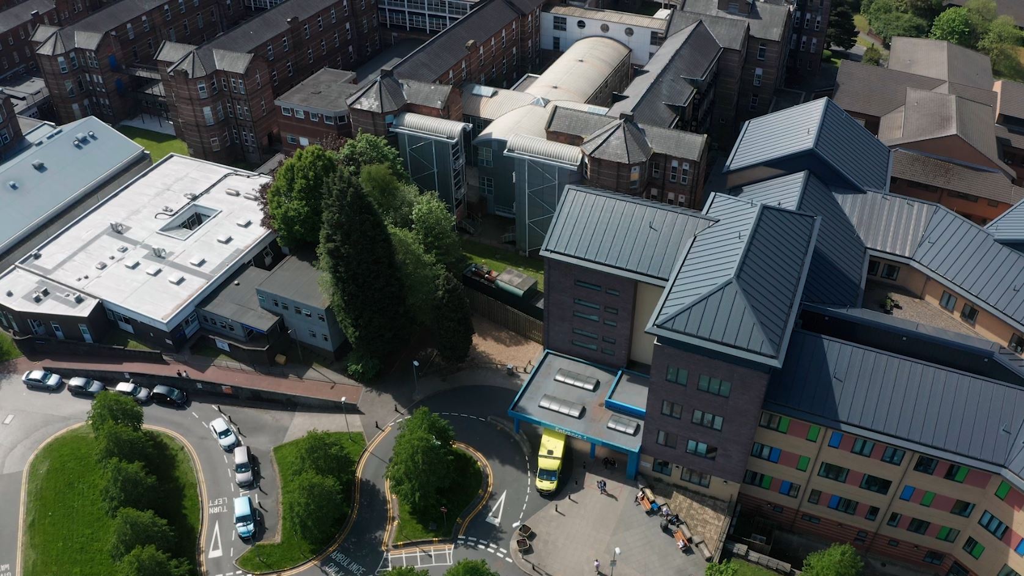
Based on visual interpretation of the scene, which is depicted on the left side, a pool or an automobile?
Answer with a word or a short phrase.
automobile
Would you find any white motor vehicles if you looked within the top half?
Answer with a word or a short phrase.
No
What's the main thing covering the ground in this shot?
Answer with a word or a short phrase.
buildings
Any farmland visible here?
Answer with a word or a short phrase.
No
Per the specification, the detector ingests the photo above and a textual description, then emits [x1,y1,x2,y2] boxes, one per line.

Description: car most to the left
[17,372,67,393]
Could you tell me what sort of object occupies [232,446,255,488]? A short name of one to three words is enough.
car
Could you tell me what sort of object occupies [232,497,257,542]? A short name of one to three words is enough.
car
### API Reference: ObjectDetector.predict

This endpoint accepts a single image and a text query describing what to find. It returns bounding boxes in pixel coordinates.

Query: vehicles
[232,446,255,488]
[232,497,257,542]
[208,416,240,455]
[114,379,151,406]
[535,430,568,492]
[63,377,108,399]
[147,384,190,410]
[17,372,67,393]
